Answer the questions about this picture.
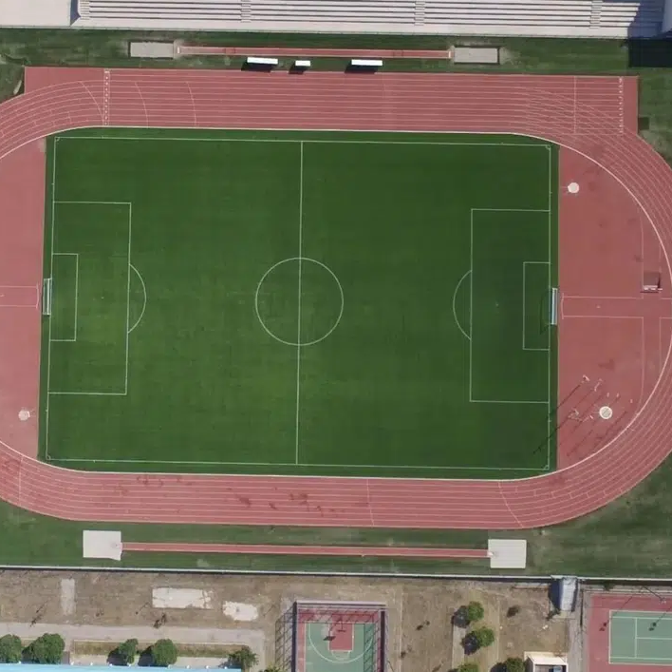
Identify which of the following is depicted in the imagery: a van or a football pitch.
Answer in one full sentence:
This aerial view contains a football pitch.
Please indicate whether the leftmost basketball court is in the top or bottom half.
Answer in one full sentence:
The leftmost basketball court is in the bottom half of the image.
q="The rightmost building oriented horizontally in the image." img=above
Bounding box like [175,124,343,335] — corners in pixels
[528,655,568,672]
